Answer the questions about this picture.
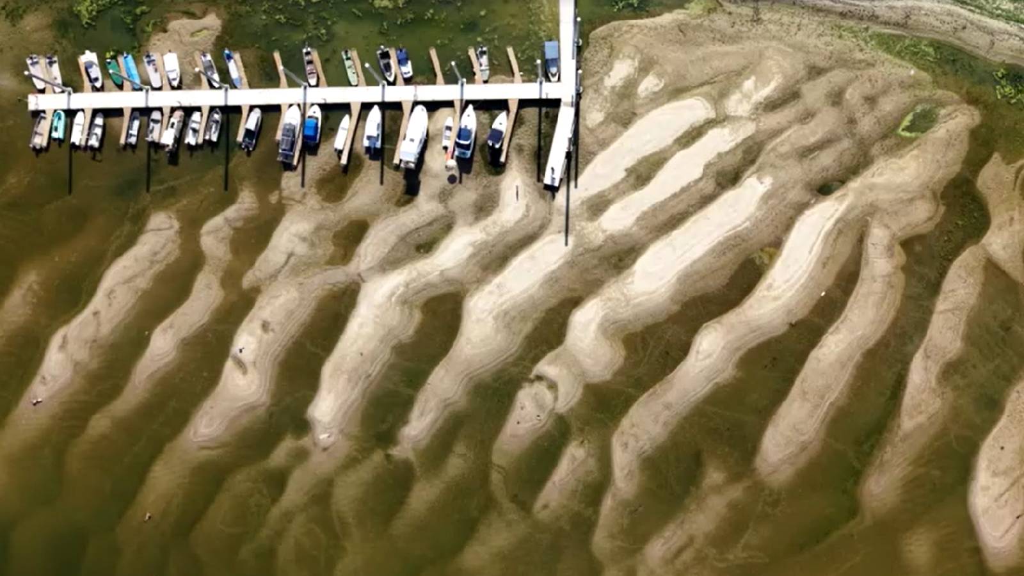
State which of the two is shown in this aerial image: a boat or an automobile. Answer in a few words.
boat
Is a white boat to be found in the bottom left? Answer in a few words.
No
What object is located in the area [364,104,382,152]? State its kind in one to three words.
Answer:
boat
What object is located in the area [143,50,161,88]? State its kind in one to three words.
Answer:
boat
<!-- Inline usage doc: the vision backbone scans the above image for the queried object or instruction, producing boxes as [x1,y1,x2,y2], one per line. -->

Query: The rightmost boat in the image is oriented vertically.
[545,40,560,82]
